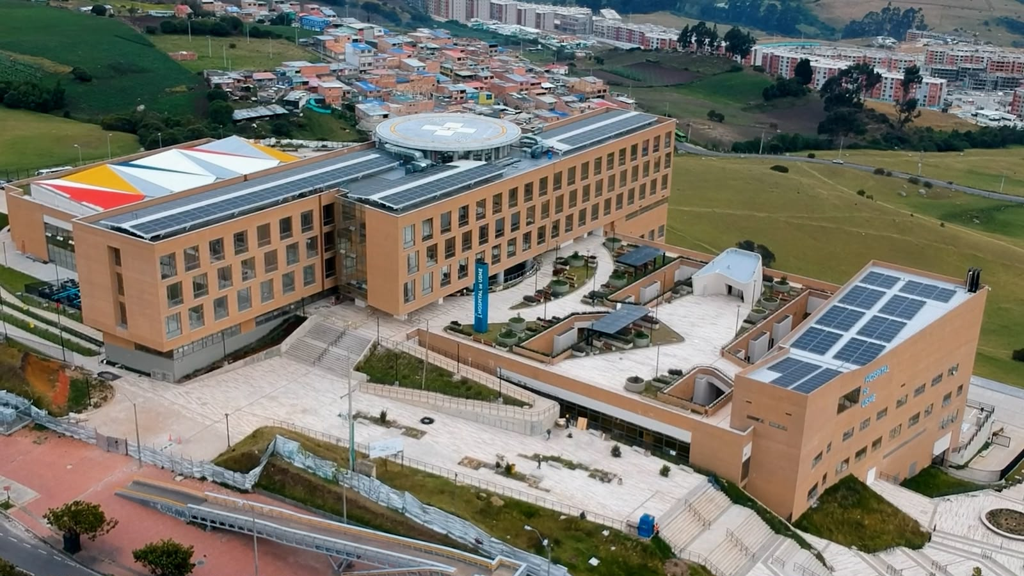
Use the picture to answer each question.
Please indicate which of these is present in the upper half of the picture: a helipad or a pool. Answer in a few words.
helipad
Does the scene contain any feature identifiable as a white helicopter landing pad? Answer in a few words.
Yes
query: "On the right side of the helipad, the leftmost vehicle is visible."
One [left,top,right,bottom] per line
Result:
[673,129,701,142]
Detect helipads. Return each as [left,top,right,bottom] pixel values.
[372,114,522,169]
